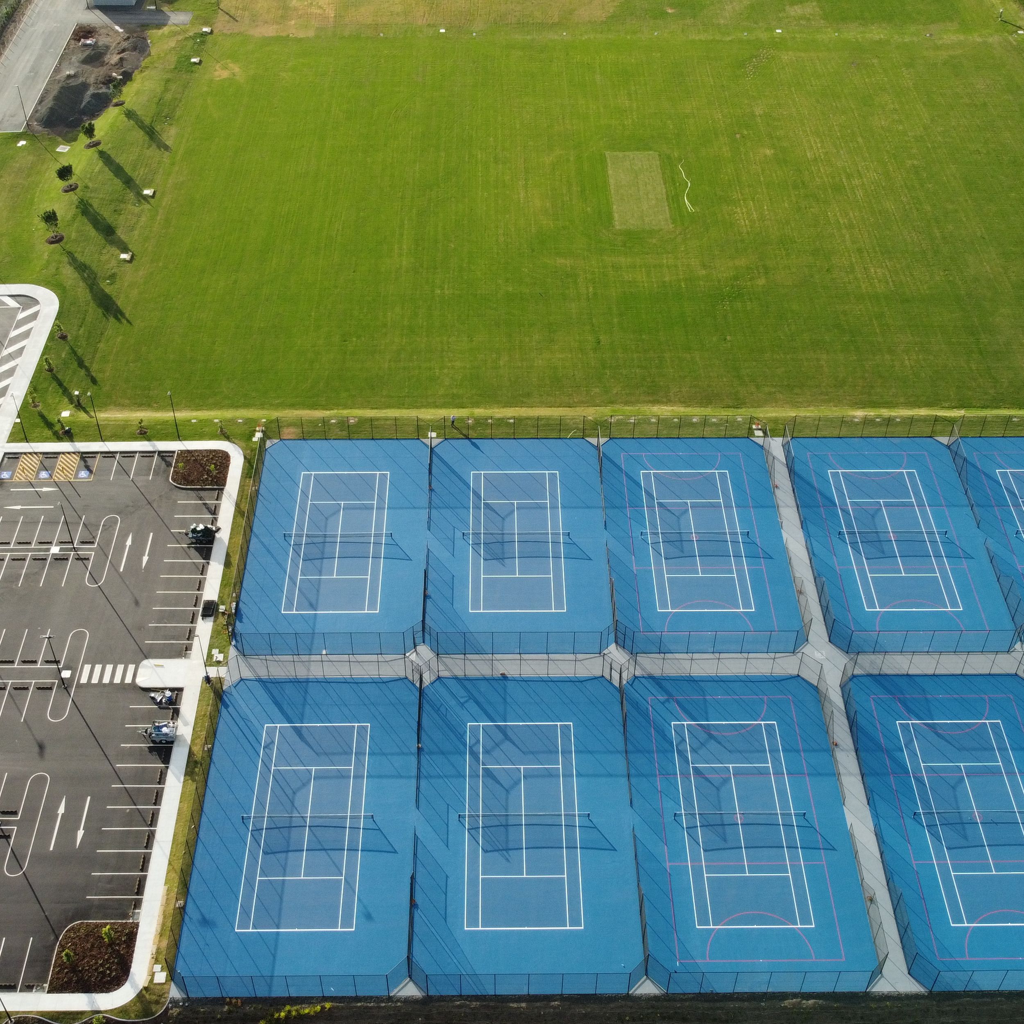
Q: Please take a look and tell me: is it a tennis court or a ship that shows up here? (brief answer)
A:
tennis court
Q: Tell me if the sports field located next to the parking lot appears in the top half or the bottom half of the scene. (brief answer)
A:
top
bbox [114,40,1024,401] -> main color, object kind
green sports field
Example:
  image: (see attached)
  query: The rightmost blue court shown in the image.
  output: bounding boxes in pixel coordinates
[948,437,1024,642]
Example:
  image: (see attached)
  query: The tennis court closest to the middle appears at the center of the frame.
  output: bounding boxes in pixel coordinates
[423,438,615,654]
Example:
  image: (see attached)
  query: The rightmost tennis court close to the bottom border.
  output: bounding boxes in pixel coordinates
[841,674,1024,990]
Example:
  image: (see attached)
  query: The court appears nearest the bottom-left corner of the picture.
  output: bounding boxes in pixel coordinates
[172,677,418,997]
